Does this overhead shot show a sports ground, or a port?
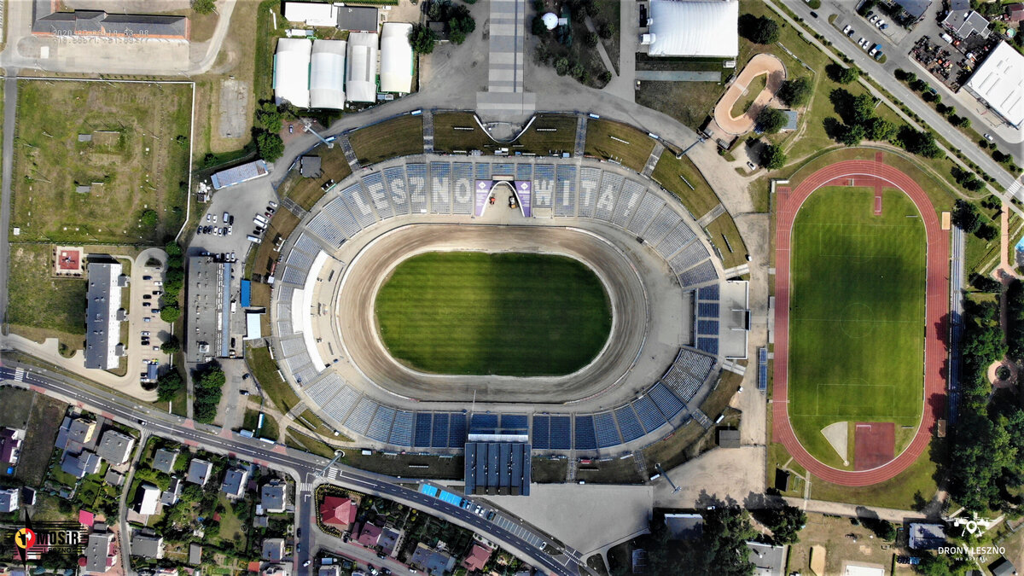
sports ground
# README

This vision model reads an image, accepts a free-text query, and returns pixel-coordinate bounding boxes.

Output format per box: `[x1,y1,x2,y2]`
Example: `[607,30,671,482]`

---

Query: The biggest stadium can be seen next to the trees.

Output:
[245,111,750,484]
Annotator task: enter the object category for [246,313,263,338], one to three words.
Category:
shed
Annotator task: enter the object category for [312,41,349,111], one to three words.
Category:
building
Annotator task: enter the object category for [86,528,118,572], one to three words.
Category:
house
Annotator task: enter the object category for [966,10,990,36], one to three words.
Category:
building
